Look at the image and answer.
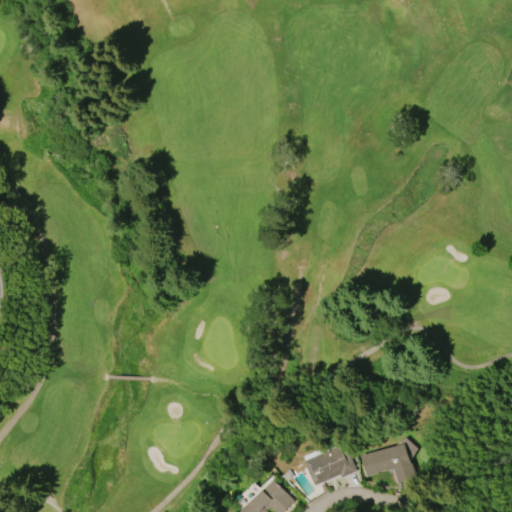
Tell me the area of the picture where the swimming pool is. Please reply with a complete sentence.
The swimming pool is located in the bottom region of the scene.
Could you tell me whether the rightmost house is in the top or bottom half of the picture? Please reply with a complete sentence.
It is in the bottom half that the rightmost house appears.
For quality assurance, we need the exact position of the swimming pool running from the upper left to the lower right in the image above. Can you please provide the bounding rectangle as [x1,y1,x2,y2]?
[294,473,315,496]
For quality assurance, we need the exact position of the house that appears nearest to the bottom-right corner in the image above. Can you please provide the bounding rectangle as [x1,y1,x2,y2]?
[362,438,419,482]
